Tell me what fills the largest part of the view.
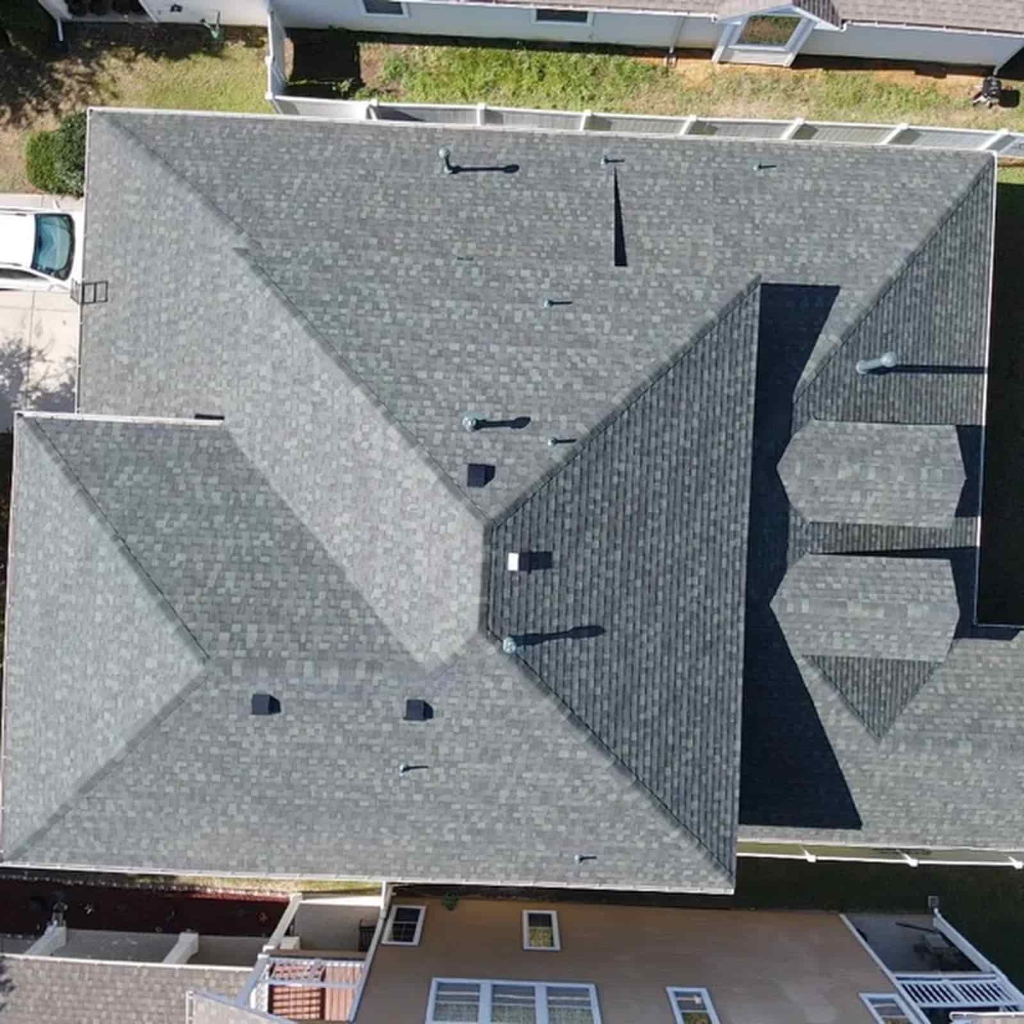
buildings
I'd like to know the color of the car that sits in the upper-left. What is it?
white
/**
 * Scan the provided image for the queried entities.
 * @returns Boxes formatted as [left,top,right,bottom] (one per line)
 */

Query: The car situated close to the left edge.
[0,200,86,293]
